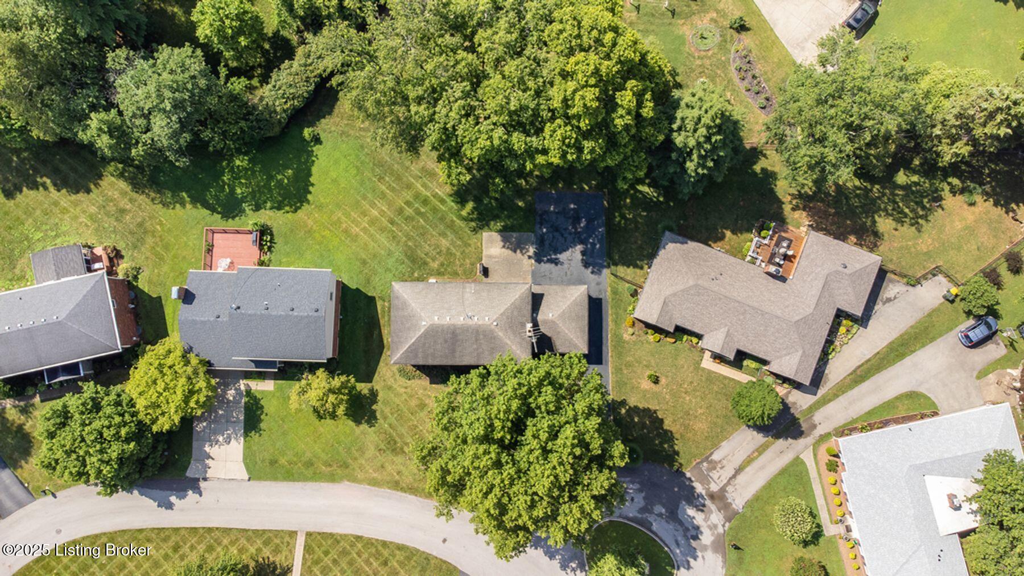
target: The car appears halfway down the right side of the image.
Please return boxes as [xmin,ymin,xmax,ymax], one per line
[955,317,999,349]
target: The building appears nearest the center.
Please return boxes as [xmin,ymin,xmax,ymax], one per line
[390,281,589,365]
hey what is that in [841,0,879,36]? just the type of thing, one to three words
car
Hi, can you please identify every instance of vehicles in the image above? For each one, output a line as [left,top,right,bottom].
[955,317,999,349]
[841,0,879,36]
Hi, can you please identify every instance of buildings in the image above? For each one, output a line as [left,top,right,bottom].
[0,270,140,386]
[171,265,341,371]
[390,281,589,365]
[833,399,1023,576]
[633,230,883,386]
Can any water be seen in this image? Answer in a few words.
No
